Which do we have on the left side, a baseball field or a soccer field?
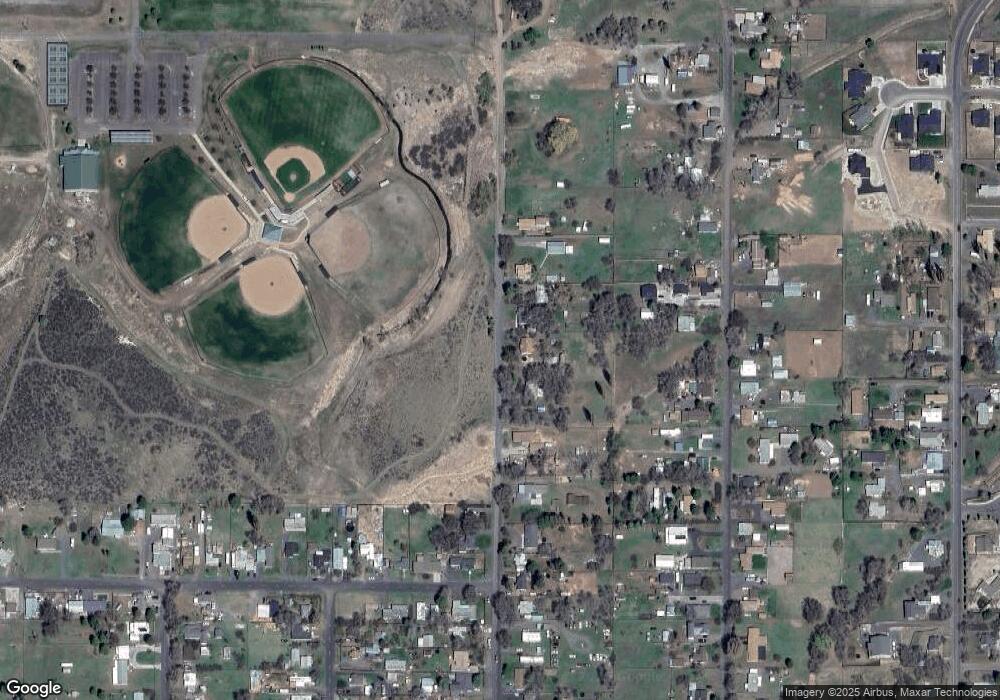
baseball field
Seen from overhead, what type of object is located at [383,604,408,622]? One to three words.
house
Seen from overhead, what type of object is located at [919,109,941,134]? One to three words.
house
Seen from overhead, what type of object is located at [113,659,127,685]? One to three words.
barn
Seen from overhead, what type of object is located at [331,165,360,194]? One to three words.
building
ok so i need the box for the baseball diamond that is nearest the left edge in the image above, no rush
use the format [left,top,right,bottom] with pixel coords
[118,145,250,294]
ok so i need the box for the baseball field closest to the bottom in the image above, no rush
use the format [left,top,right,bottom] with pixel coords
[184,253,326,383]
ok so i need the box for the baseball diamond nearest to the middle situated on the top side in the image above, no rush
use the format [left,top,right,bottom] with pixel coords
[308,183,439,322]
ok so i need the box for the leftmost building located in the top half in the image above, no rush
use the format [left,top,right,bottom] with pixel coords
[61,149,99,191]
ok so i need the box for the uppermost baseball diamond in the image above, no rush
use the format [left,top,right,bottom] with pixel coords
[220,58,389,213]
